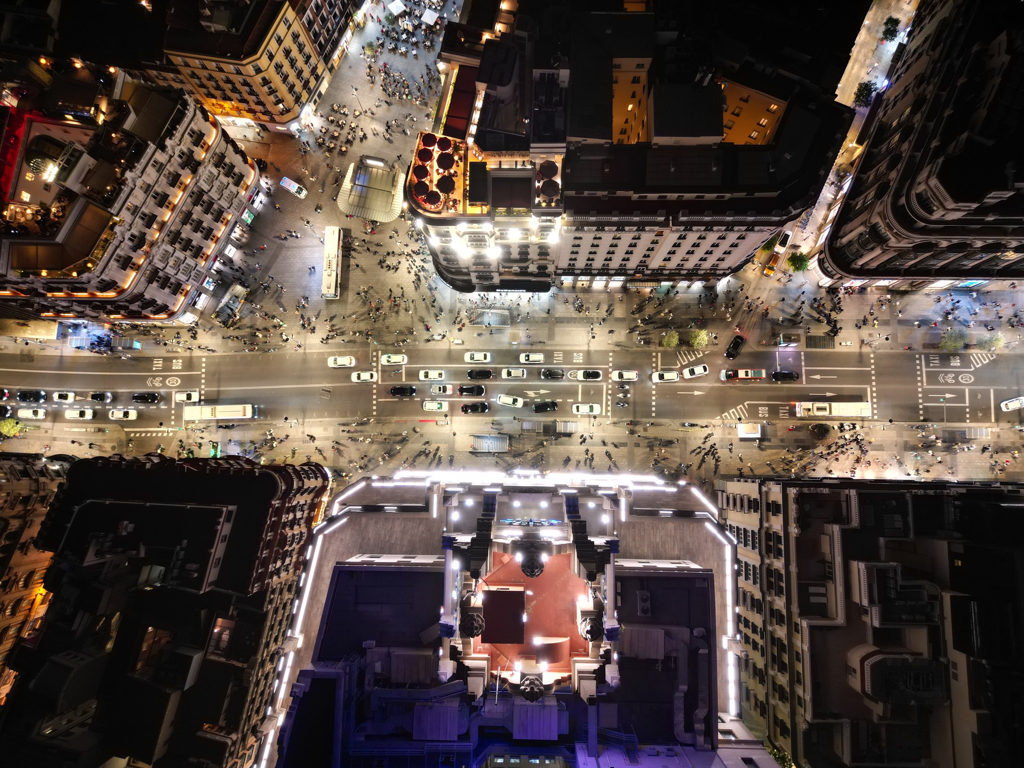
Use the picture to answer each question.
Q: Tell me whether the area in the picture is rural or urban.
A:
urban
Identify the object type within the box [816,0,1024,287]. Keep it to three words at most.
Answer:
building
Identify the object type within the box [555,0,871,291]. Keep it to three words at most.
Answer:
building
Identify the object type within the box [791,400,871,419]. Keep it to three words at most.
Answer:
vehicle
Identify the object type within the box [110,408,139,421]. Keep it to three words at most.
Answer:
vehicle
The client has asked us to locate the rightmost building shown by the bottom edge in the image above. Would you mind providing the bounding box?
[712,470,1024,768]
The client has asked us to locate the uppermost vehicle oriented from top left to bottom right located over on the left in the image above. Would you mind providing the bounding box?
[280,177,311,203]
